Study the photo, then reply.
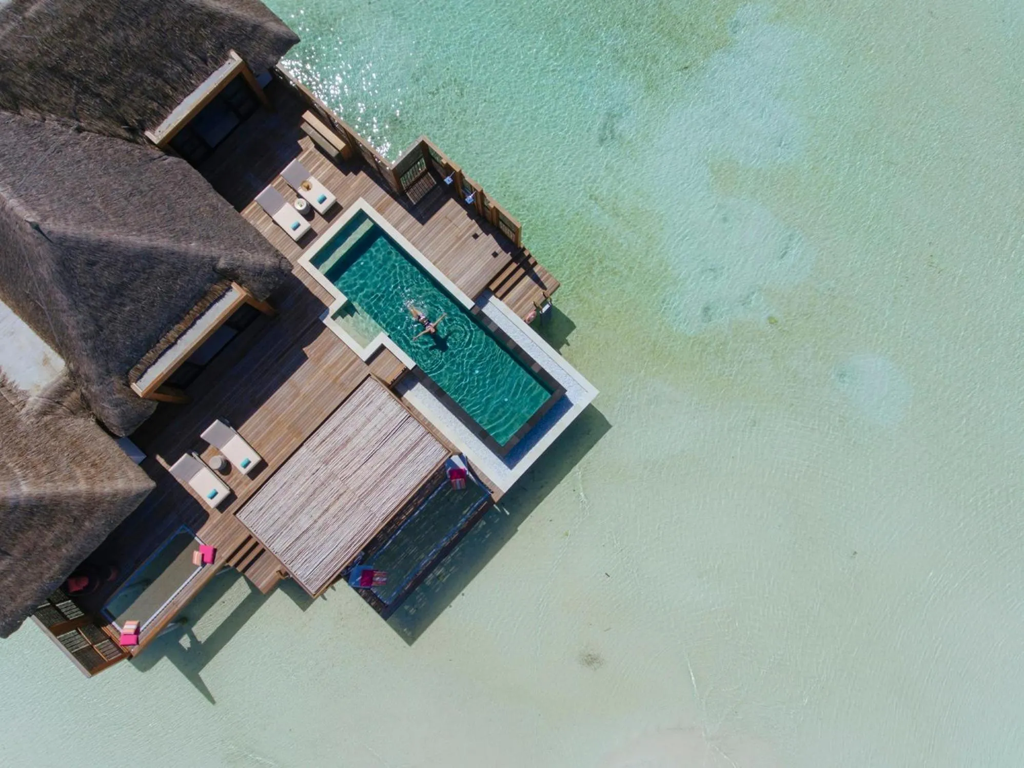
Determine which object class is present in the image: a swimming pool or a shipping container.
swimming pool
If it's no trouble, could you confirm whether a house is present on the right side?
No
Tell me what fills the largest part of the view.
water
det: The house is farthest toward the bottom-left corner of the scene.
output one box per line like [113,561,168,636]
[0,349,163,637]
